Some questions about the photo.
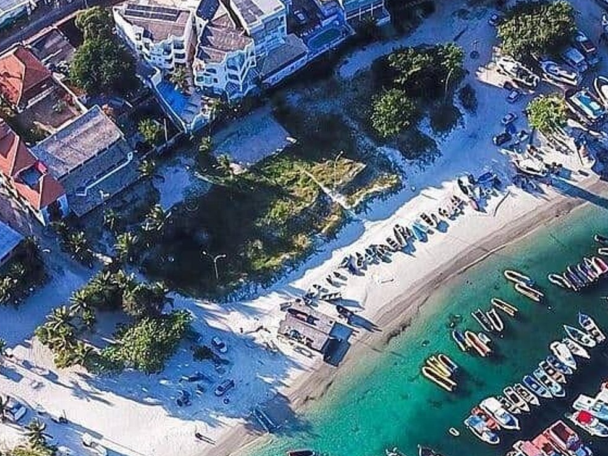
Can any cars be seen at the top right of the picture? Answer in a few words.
Yes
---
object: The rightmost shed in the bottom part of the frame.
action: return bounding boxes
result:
[279,305,335,356]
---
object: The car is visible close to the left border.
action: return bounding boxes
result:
[7,403,30,424]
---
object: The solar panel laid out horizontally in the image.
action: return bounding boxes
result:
[124,1,180,21]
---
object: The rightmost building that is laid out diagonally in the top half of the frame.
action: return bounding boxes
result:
[259,32,315,88]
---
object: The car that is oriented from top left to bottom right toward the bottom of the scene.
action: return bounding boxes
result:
[209,335,229,355]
